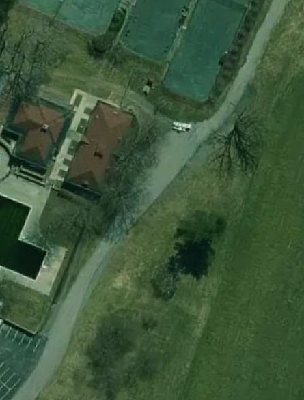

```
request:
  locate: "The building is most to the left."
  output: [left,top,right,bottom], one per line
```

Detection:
[3,97,70,167]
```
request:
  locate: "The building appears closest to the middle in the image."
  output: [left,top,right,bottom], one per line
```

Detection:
[65,100,135,188]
